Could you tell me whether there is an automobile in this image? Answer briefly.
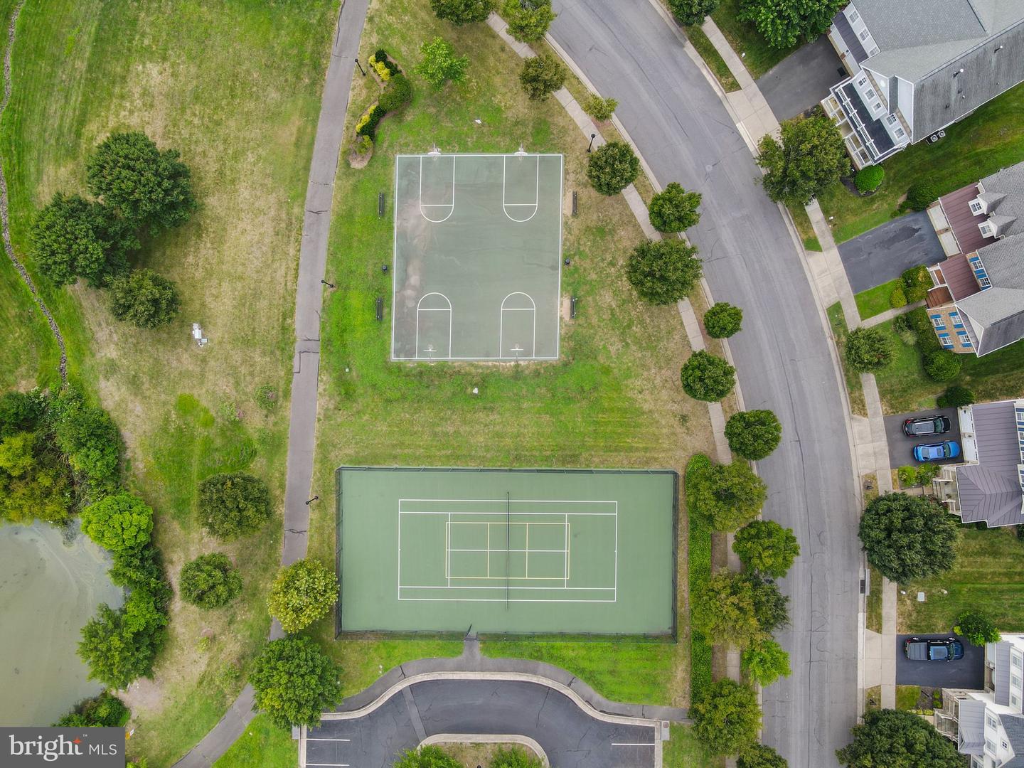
Yes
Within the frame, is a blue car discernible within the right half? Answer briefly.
Yes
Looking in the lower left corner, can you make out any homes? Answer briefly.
No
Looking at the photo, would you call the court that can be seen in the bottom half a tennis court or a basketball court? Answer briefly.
tennis court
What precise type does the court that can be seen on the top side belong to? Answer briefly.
basketball court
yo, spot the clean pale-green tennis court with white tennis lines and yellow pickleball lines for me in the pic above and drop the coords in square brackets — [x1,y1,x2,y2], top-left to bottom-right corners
[340,466,675,634]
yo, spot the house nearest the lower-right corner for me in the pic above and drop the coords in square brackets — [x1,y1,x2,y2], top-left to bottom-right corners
[934,634,1024,768]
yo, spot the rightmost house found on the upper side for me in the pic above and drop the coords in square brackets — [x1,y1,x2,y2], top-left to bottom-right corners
[922,161,1024,359]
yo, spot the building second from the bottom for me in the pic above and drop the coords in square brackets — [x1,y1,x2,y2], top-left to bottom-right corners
[932,396,1024,529]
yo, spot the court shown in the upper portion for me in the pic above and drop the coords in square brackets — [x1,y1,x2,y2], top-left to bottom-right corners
[390,153,564,362]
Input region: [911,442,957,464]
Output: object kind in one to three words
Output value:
car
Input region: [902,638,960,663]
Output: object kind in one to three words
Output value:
truck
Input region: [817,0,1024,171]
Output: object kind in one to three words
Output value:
house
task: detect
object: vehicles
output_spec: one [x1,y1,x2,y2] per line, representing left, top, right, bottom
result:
[900,415,949,438]
[902,638,960,663]
[911,442,957,464]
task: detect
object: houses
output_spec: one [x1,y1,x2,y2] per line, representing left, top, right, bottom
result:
[922,161,1024,359]
[932,396,1024,529]
[934,634,1024,768]
[817,0,1024,171]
